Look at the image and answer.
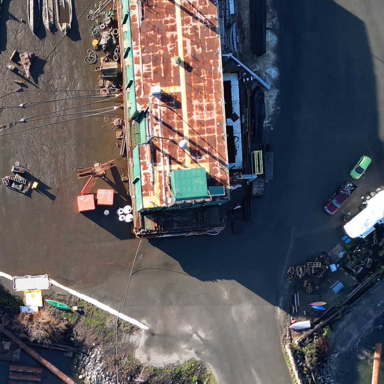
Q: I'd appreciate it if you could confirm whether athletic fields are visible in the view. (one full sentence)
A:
No, the frame has no athletic field in it.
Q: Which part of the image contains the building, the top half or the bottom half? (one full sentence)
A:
The top half of the photo is where the building is.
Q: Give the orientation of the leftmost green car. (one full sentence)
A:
In this picture, the leftmost green car lies on a diagonal.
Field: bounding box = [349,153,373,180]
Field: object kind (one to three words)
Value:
car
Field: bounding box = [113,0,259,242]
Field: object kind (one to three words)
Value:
building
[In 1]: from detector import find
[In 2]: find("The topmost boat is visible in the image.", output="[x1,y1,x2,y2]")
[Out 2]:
[0,176,31,195]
